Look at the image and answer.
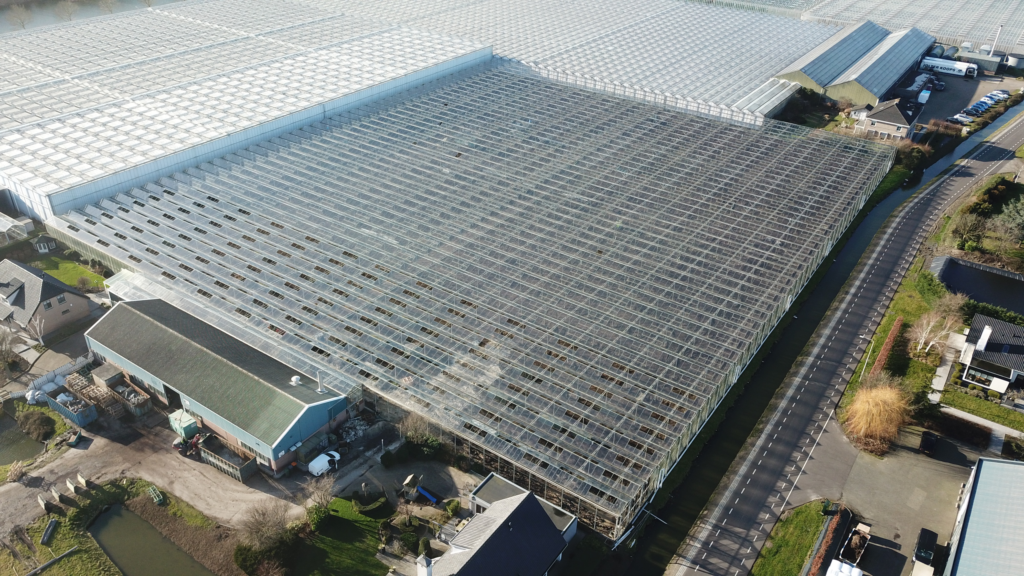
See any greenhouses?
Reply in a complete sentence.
Yes, looking at the shot, I can spot a greenhouse.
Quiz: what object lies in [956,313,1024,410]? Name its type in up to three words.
house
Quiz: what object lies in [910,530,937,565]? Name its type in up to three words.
vehicle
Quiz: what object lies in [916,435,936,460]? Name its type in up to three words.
car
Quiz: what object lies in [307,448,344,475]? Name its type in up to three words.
vehicle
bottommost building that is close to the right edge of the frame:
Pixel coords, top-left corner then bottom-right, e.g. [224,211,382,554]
[943,455,1024,576]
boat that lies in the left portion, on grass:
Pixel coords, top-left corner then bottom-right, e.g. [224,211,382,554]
[40,517,54,544]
